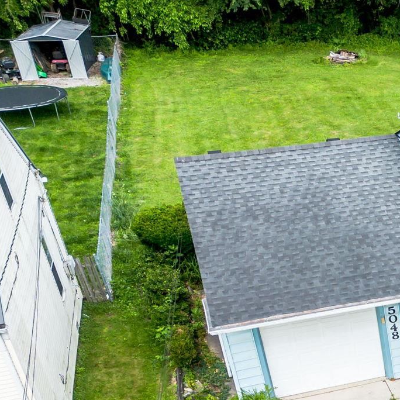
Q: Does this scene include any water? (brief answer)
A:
No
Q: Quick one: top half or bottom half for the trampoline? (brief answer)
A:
top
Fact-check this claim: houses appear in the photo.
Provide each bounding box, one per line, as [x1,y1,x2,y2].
[0,89,83,400]
[173,129,400,400]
